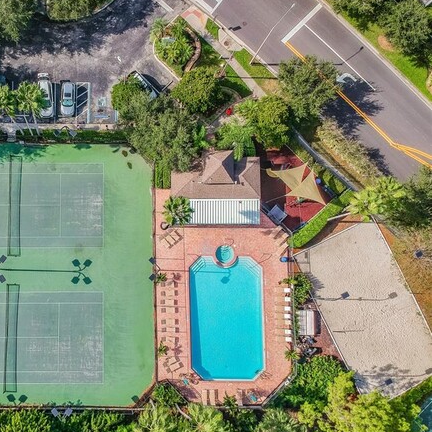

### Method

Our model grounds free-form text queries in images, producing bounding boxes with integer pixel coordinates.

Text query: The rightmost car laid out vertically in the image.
[59,82,76,119]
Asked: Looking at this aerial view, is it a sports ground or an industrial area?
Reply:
sports ground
